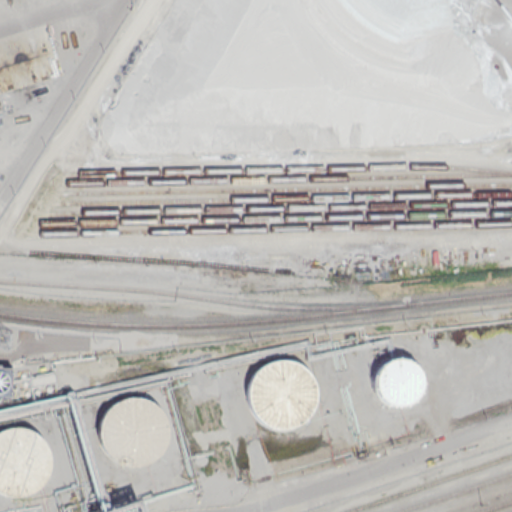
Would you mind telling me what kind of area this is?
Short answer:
industrial area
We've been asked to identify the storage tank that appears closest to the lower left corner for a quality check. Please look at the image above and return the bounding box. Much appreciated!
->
[0,427,54,502]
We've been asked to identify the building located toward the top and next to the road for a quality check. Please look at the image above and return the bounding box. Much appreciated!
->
[0,24,60,91]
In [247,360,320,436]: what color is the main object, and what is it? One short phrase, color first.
white storage tank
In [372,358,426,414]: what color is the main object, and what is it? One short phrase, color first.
white storage tank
